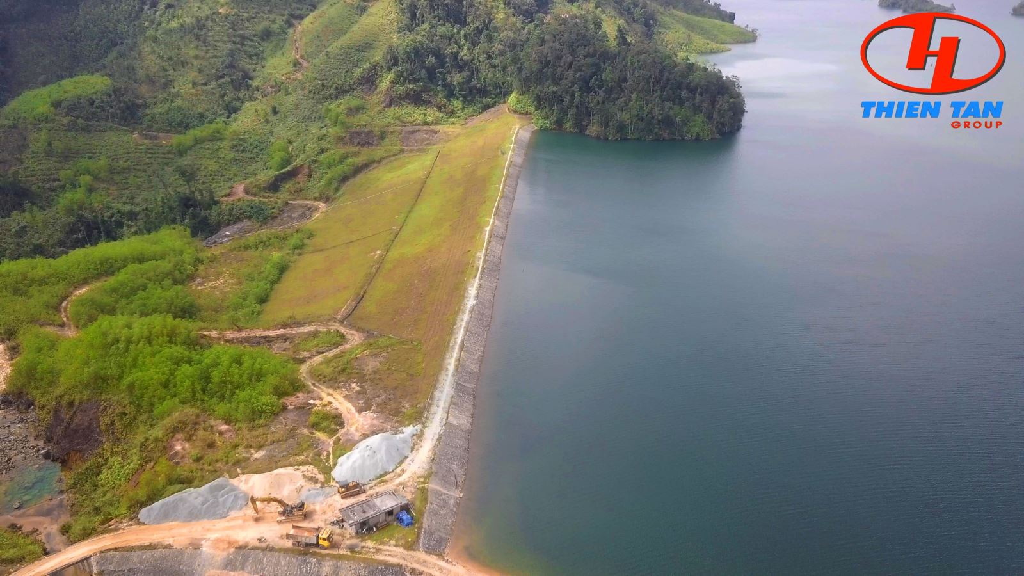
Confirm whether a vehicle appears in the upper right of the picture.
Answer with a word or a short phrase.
No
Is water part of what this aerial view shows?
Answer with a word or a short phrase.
Yes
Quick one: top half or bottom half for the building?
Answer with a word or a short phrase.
bottom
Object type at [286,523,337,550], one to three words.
truck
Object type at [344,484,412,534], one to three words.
building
